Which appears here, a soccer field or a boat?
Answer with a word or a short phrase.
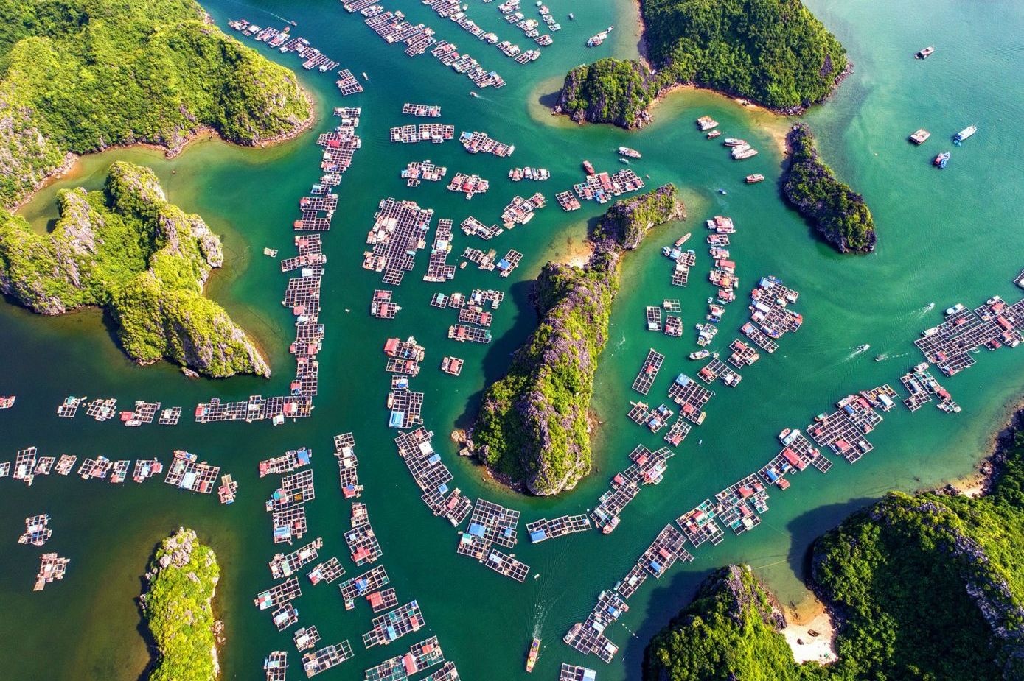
boat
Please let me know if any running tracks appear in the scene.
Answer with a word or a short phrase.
No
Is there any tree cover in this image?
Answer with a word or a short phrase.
Yes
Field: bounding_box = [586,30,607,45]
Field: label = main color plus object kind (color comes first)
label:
white boat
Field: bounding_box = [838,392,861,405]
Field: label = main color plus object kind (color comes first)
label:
white boat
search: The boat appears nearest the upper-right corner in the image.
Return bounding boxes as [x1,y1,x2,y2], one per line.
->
[914,45,936,58]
